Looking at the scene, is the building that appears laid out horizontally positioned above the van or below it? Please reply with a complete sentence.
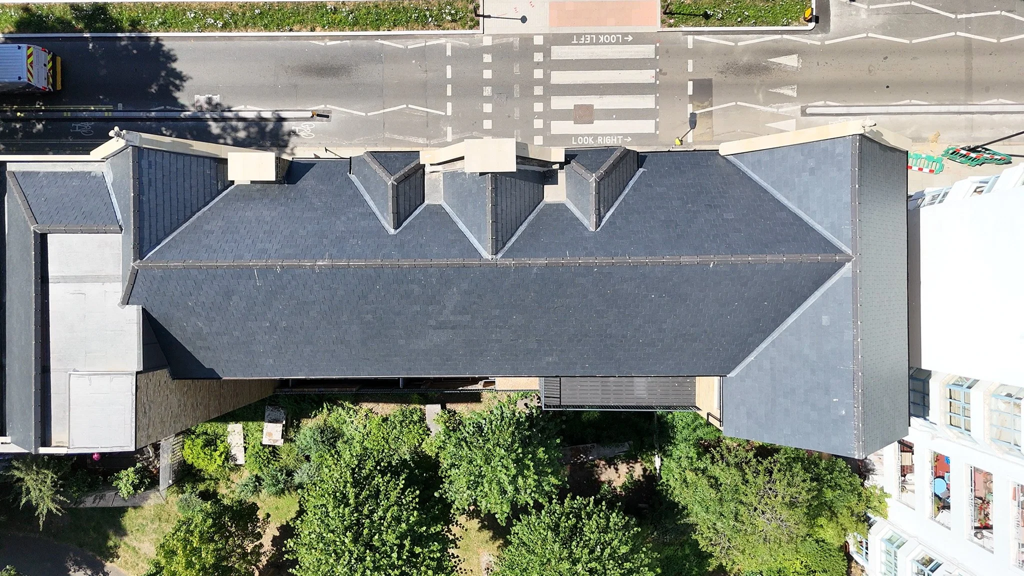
As seen from overhead, the building that appears laid out horizontally falls below the van in the picture.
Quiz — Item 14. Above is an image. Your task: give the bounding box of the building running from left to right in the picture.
[0,118,918,458]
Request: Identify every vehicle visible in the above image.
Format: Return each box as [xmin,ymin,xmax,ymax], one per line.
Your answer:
[0,44,61,99]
